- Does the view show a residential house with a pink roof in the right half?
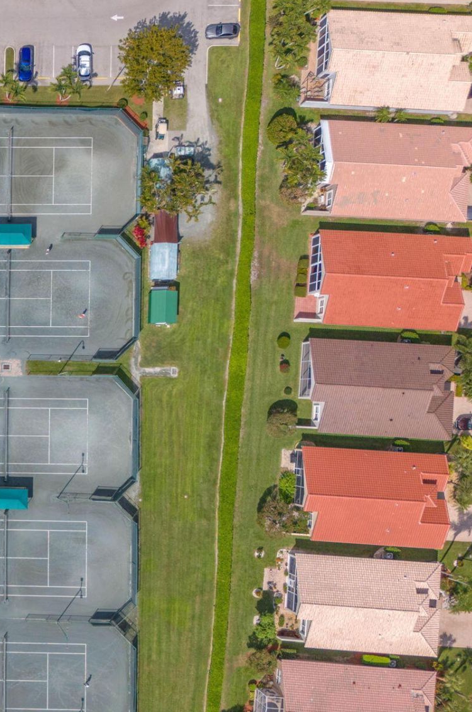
Yes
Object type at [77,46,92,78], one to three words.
car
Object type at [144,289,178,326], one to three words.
shed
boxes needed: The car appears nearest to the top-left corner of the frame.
[18,46,33,80]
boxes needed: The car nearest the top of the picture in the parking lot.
[205,21,238,39]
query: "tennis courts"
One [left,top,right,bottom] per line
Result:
[0,619,131,712]
[0,113,137,236]
[0,235,136,360]
[0,374,135,501]
[0,497,133,621]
